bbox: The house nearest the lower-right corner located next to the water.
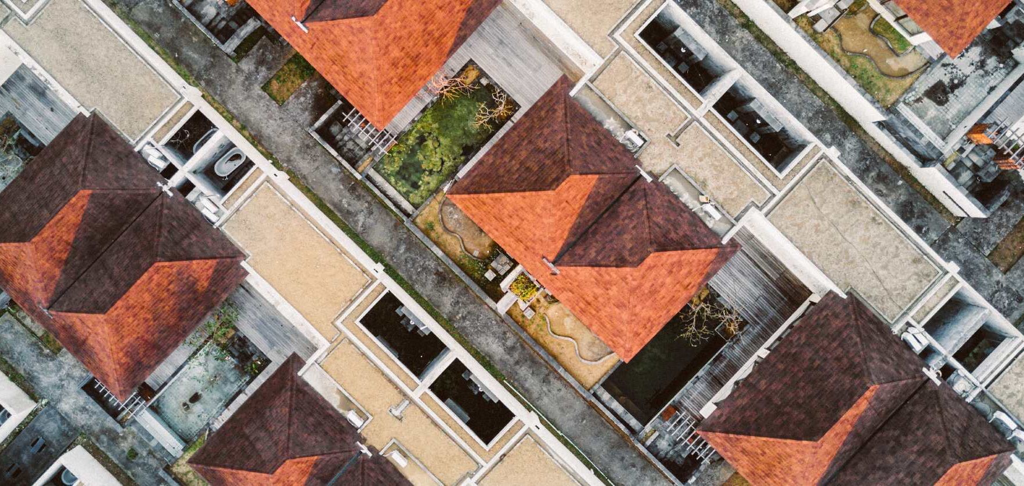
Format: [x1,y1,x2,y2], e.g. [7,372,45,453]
[696,150,1024,486]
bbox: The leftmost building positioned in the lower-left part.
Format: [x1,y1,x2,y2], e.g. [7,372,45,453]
[0,374,35,442]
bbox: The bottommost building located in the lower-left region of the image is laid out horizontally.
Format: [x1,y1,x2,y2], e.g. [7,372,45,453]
[33,446,125,486]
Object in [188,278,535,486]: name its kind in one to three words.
house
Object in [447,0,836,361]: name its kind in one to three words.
house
